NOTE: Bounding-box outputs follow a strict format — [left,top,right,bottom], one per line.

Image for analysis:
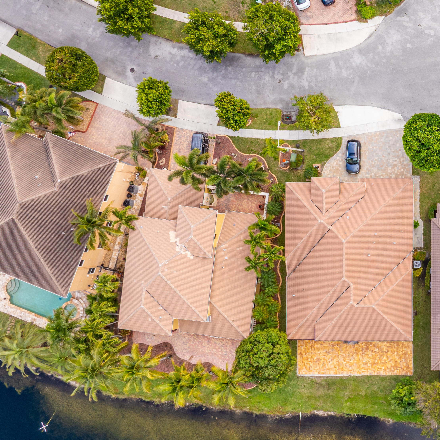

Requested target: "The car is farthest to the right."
[344,140,362,174]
